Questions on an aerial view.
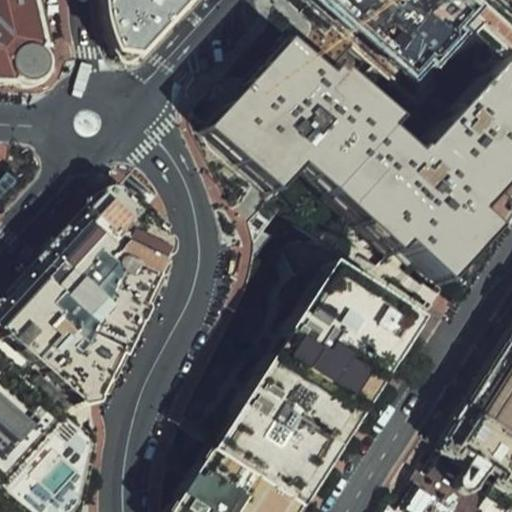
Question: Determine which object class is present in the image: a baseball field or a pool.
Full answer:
Visible in the photo is a pool.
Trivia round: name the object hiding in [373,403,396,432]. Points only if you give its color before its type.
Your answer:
white truck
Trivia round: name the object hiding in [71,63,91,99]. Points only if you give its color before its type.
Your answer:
white bus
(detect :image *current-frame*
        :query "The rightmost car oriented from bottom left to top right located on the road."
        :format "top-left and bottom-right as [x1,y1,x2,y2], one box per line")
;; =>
[402,396,416,412]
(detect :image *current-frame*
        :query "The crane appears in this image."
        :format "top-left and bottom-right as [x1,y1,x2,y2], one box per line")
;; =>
[263,0,400,94]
